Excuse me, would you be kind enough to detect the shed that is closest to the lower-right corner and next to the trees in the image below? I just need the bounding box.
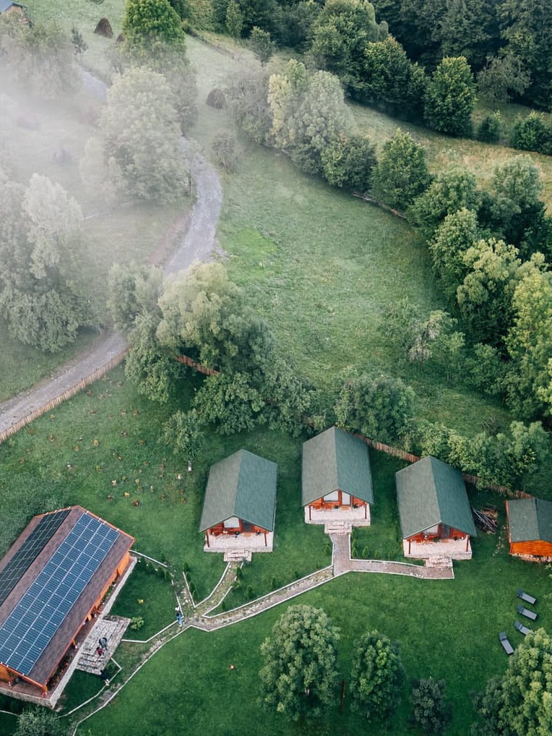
[506,497,552,558]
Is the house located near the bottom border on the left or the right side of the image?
left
